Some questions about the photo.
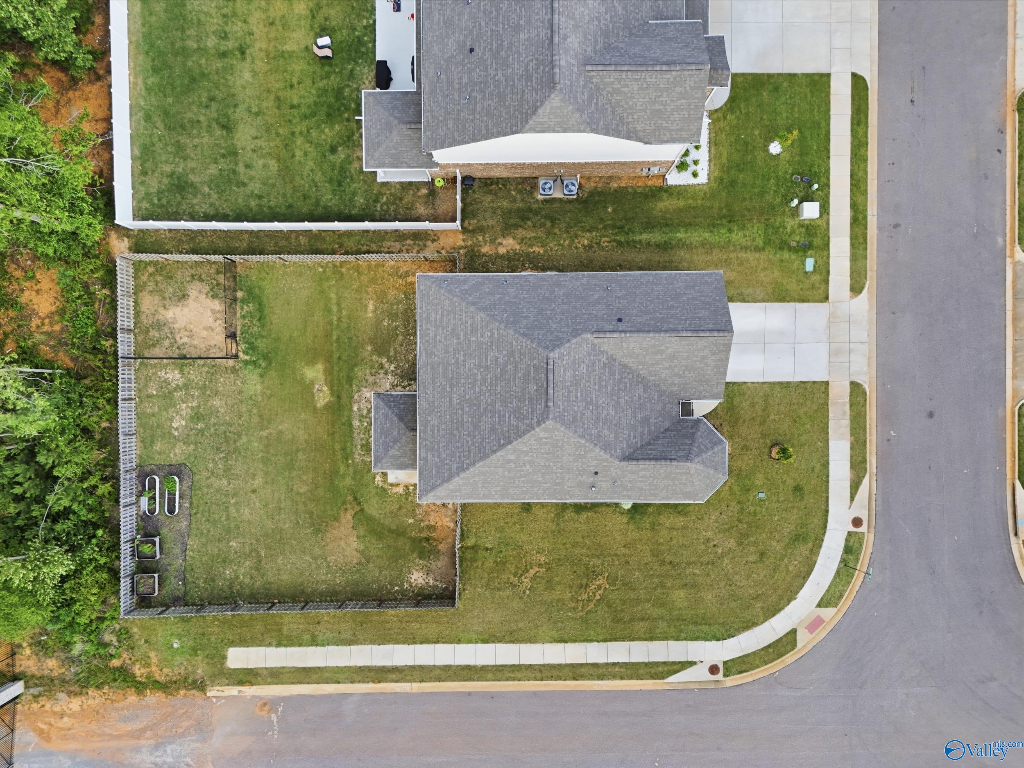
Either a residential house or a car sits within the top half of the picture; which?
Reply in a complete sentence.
Looking within the top half of the picture, you will find a residential house.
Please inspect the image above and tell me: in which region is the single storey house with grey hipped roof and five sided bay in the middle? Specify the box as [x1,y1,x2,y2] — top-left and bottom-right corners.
[372,271,733,503]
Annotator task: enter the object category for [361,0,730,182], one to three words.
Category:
house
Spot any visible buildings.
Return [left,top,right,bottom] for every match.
[372,271,733,503]
[361,0,730,182]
